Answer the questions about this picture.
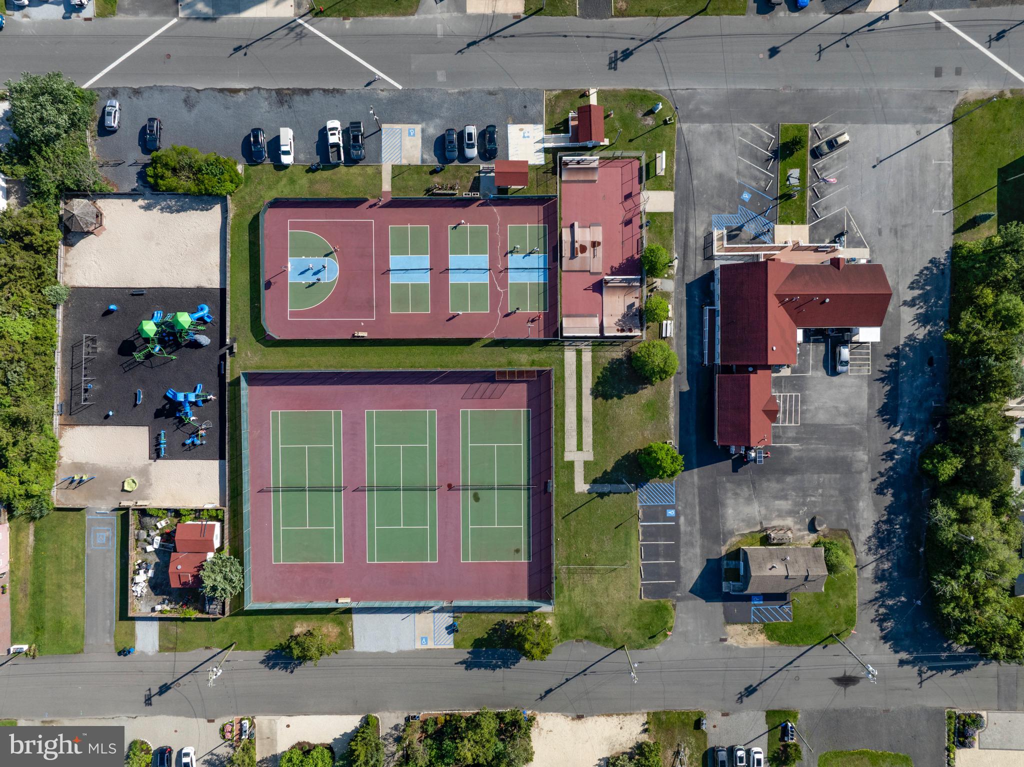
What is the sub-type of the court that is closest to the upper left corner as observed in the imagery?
basketball court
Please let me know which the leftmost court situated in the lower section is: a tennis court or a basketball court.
tennis court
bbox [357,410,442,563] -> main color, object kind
green tennis court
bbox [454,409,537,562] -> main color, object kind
green tennis court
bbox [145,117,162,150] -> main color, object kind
black car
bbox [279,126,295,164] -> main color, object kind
white vehicle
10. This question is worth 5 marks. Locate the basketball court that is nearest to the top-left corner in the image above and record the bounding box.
[288,220,375,320]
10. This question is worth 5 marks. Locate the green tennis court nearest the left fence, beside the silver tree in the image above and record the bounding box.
[261,410,347,563]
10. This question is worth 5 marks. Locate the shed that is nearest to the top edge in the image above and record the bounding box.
[544,104,608,147]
